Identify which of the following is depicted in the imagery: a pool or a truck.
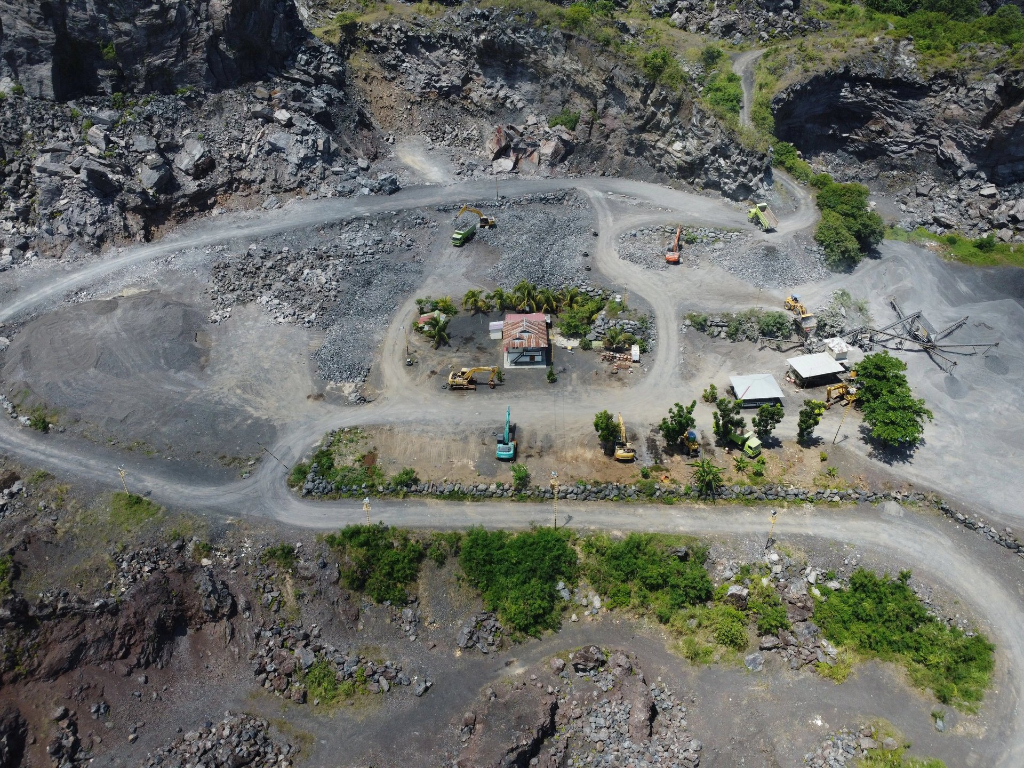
truck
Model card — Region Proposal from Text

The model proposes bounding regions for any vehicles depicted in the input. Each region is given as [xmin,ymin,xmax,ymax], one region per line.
[455,201,497,227]
[613,428,639,464]
[719,428,769,461]
[744,201,782,234]
[777,294,817,318]
[496,399,516,461]
[447,363,498,393]
[683,428,708,460]
[820,379,865,406]
[452,217,479,247]
[666,216,681,262]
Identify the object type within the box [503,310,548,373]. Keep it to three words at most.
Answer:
house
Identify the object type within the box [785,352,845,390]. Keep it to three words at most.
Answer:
shed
